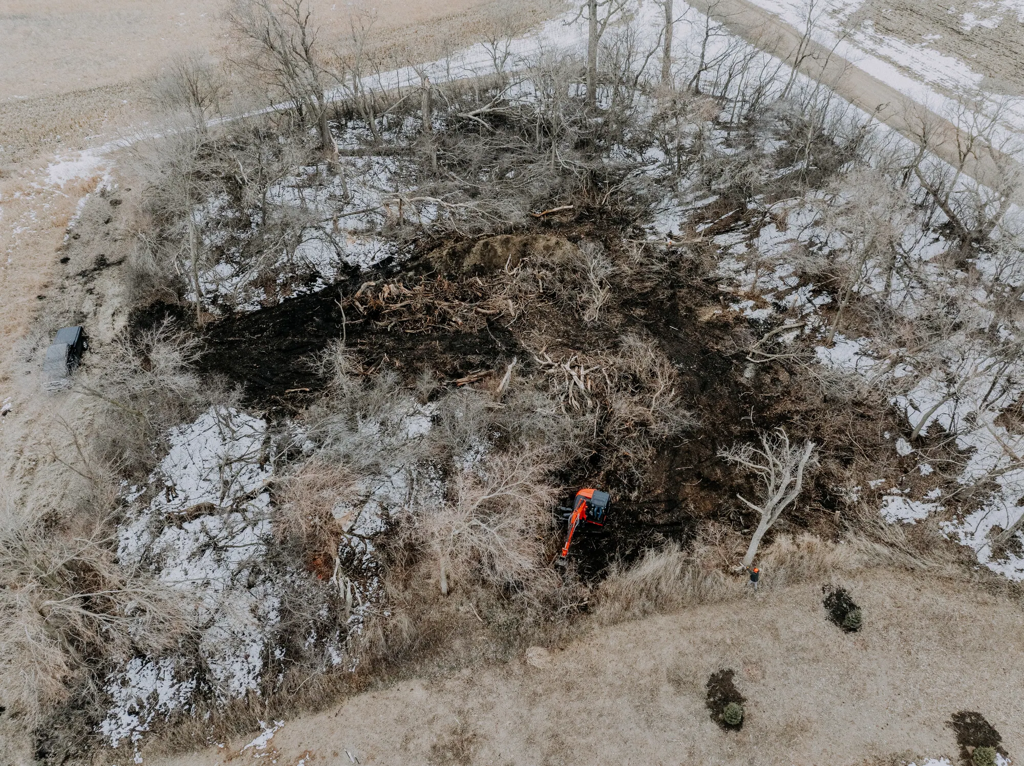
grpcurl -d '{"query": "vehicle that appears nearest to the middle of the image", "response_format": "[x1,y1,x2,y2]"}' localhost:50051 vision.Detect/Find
[552,485,616,572]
